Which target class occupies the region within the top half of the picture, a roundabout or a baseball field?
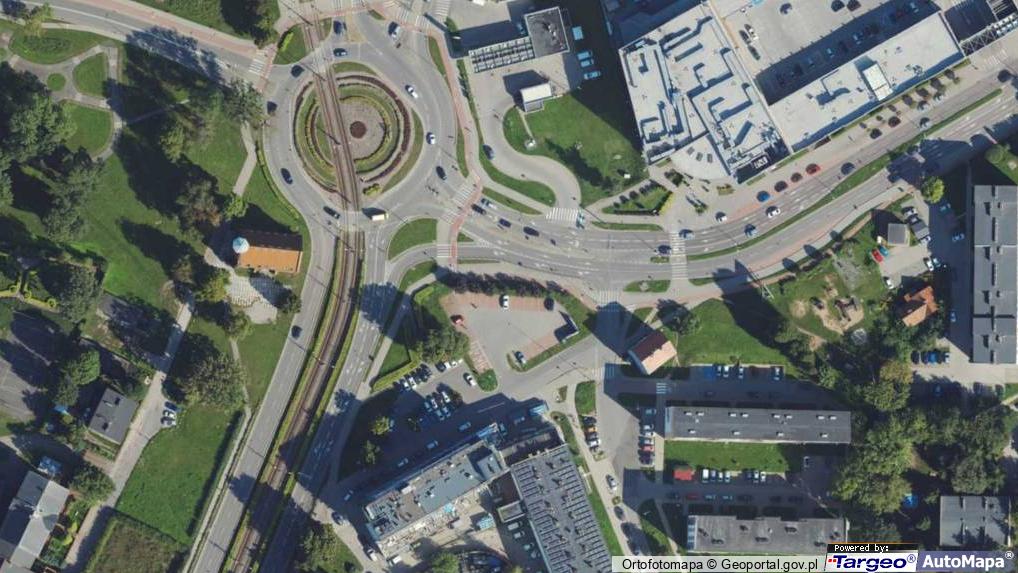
roundabout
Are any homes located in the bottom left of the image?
Yes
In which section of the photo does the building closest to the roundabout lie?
left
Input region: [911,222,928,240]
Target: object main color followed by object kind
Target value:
gray vehicle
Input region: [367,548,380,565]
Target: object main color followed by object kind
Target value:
white vehicle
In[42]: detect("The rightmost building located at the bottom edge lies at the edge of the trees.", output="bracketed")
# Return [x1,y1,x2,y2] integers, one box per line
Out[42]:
[936,496,1010,545]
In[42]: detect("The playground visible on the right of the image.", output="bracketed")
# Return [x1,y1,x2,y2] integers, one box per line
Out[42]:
[785,277,868,352]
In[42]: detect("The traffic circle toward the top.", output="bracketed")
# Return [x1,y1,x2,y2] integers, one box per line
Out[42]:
[263,12,472,243]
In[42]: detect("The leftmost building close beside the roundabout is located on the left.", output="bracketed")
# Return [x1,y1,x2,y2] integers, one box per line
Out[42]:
[232,228,303,280]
